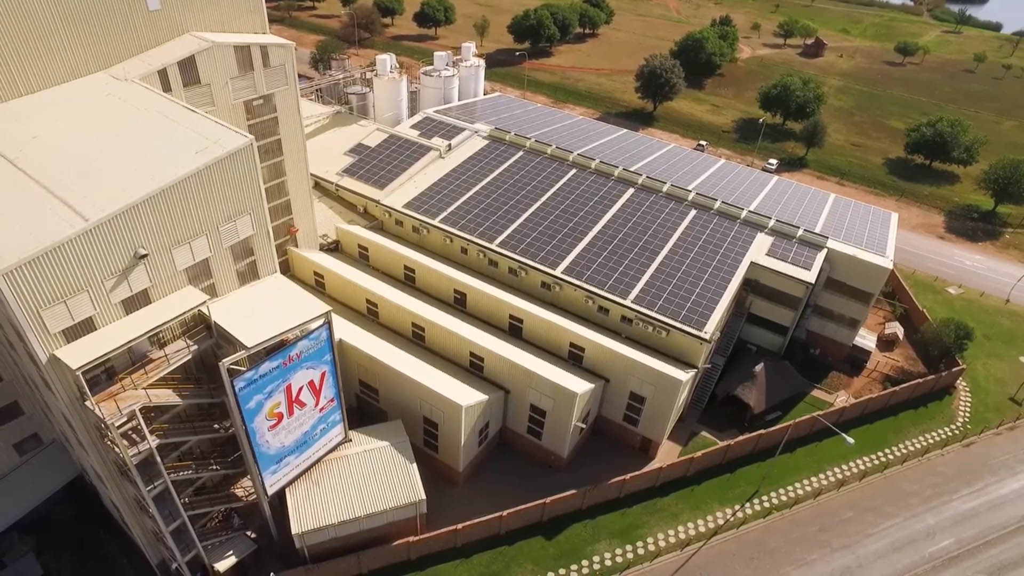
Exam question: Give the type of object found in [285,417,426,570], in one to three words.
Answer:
shed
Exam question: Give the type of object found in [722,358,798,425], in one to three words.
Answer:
shed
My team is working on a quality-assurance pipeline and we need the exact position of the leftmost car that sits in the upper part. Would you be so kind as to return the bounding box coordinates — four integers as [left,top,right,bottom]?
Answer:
[696,138,712,151]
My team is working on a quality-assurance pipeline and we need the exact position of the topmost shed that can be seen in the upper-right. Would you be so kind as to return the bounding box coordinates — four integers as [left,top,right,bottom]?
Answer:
[804,31,831,56]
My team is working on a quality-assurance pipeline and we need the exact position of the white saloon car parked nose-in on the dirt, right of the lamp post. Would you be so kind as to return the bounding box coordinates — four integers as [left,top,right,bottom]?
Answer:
[765,156,782,172]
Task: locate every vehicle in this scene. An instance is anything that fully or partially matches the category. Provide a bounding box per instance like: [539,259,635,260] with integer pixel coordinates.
[696,138,712,151]
[765,156,782,172]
